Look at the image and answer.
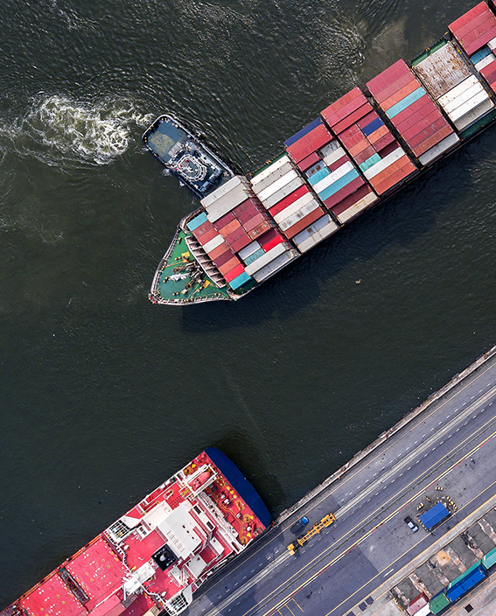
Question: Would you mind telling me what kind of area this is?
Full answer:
What you see here is a port.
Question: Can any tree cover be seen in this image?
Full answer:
No, no tree cover is visible.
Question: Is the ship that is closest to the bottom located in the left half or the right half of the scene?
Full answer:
It is on the left.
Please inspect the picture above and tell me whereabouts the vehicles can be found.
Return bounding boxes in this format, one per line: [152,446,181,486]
[290,516,310,535]
[403,517,420,533]
[285,510,339,557]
